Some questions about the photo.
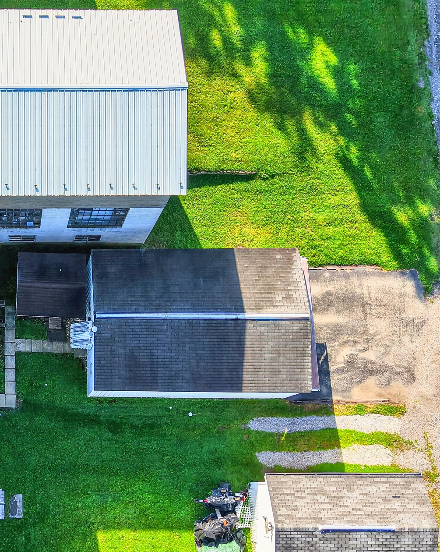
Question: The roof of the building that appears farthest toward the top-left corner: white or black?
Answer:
white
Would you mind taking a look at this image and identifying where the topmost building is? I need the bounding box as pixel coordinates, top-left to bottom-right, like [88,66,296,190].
[0,10,189,245]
